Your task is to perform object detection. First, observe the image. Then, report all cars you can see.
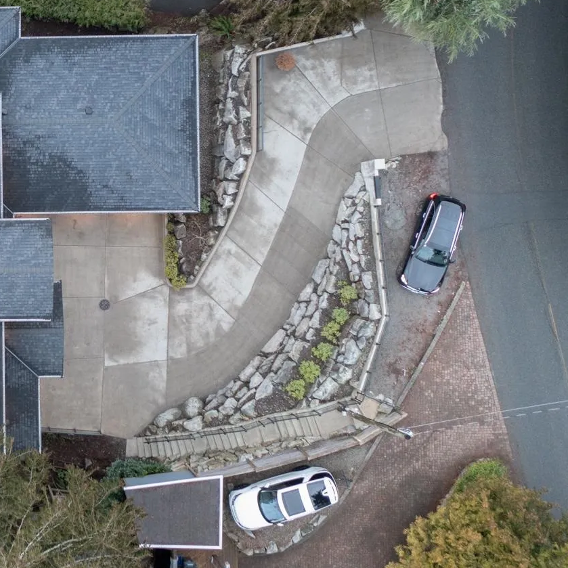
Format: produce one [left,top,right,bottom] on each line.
[395,193,469,297]
[227,463,339,530]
